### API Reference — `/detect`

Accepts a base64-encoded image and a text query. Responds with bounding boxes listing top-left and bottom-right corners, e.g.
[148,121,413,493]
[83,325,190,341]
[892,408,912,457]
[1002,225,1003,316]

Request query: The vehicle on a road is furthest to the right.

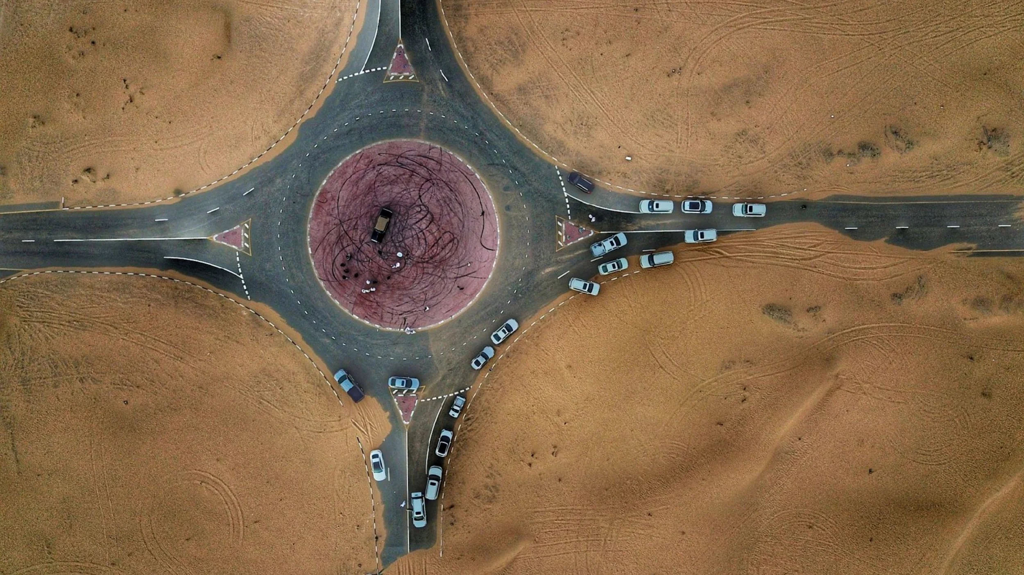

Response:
[734,201,769,217]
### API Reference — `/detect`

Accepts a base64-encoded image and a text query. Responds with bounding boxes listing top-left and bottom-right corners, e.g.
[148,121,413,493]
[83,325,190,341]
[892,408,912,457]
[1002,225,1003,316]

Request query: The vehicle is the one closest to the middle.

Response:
[488,317,520,347]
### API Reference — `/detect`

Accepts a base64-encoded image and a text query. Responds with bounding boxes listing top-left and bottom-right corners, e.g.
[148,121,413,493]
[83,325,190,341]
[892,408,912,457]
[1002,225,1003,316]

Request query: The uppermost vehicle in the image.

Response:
[566,170,597,194]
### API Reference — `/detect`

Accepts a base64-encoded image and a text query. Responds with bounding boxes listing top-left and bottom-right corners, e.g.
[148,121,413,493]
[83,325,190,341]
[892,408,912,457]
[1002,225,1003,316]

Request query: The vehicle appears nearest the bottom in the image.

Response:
[405,494,426,530]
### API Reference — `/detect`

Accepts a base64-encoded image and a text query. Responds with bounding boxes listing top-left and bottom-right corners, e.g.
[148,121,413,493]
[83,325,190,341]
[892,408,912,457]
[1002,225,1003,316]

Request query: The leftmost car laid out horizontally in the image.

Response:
[387,377,419,392]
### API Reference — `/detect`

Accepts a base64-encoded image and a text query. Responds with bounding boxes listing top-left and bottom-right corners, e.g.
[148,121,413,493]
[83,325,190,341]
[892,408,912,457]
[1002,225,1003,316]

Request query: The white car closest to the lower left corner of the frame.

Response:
[368,450,386,483]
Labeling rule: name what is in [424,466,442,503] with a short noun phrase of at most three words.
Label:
car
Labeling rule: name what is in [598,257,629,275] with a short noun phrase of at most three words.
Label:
car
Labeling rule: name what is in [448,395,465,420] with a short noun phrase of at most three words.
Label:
vehicle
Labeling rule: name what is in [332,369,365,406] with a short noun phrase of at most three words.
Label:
truck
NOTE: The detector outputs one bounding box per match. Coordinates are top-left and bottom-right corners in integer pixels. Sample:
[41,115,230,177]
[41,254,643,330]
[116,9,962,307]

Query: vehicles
[332,369,365,406]
[568,277,601,295]
[448,395,465,420]
[640,251,676,268]
[640,198,675,213]
[387,377,419,392]
[424,466,442,503]
[685,228,720,243]
[598,257,629,275]
[589,232,629,257]
[405,494,426,530]
[566,170,597,194]
[683,198,714,213]
[488,317,520,347]
[734,201,769,217]
[368,450,386,483]
[435,430,453,460]
[470,346,496,373]
[371,207,391,242]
